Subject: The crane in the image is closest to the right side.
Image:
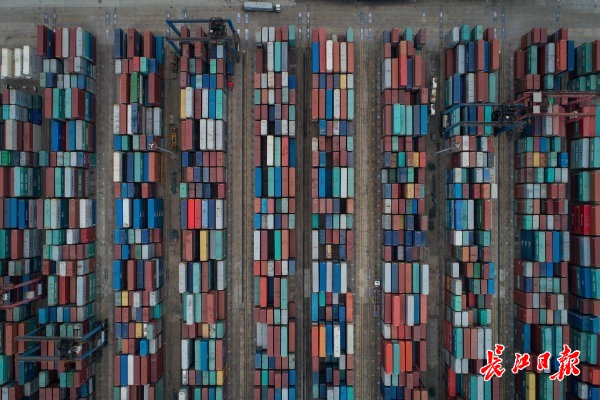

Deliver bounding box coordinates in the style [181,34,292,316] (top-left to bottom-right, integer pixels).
[506,92,597,126]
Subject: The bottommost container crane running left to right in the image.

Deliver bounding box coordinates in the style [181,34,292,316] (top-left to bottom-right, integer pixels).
[15,320,106,365]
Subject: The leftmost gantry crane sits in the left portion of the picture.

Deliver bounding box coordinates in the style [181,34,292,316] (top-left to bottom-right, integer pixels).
[0,276,46,310]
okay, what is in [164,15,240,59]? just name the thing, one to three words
container crane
